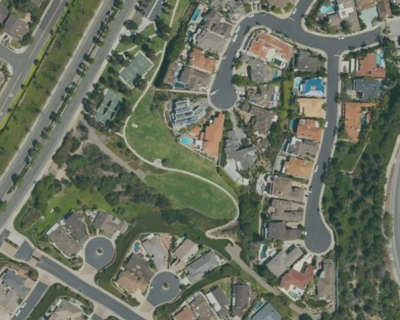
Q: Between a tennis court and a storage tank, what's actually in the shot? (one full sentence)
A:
I can see a tennis court in this picture.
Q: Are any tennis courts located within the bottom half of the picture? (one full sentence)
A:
No, there's no tennis court to be seen within the bottom half of the picture.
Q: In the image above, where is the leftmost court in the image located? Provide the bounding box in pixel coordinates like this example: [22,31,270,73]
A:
[93,84,122,121]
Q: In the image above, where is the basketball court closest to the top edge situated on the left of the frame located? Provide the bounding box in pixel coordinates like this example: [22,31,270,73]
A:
[118,50,154,89]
